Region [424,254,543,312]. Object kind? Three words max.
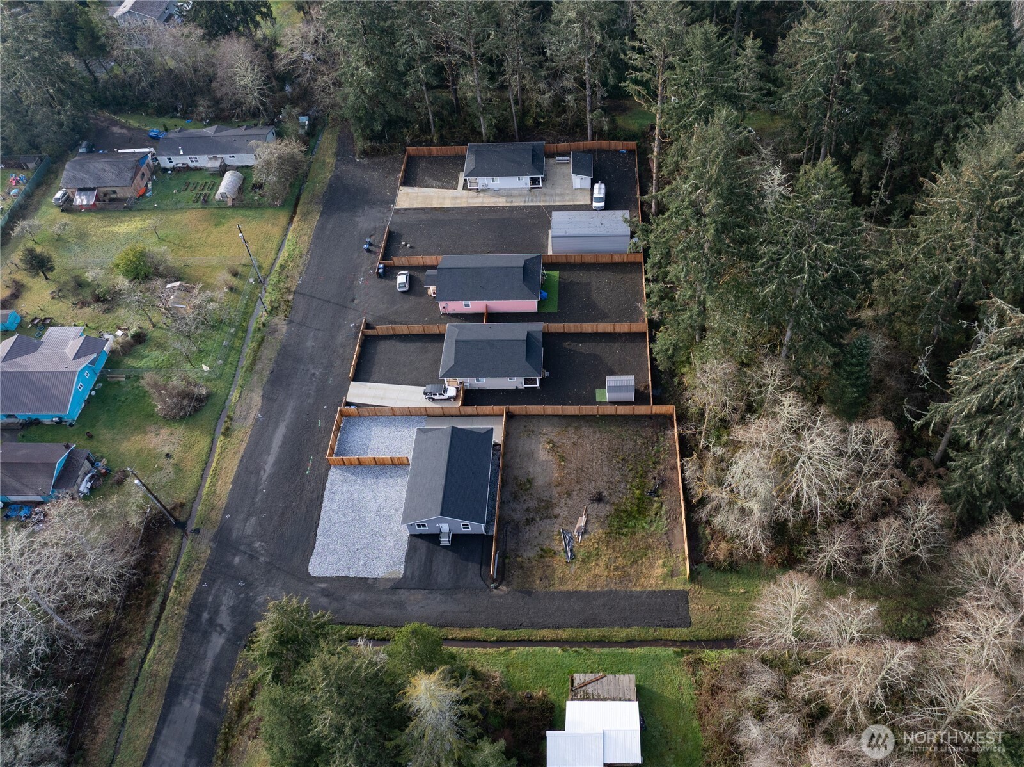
house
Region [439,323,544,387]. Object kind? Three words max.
house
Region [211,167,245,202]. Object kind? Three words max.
greenhouse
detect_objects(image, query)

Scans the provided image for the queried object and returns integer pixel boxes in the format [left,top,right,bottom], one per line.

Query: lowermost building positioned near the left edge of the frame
[0,443,102,501]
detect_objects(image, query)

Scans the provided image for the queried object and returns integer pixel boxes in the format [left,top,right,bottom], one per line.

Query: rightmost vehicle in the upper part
[592,176,606,208]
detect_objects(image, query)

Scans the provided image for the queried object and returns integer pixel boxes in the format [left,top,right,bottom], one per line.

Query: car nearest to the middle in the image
[395,271,408,292]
